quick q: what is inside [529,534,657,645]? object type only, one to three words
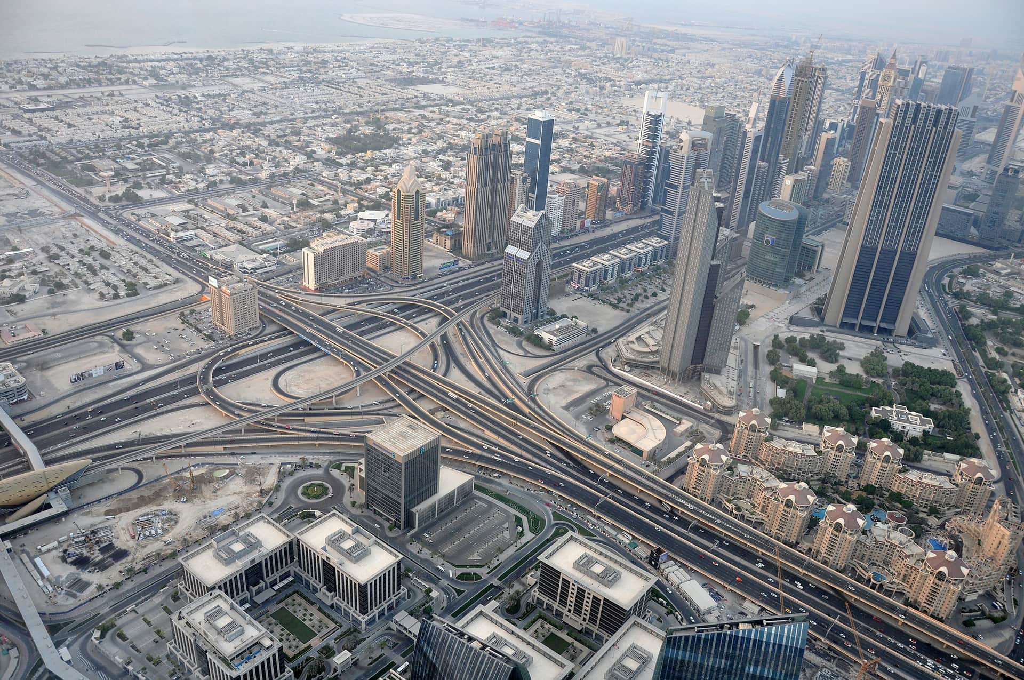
building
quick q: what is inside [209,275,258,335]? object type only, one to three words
building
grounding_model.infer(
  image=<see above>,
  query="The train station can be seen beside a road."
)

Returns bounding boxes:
[0,458,91,521]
